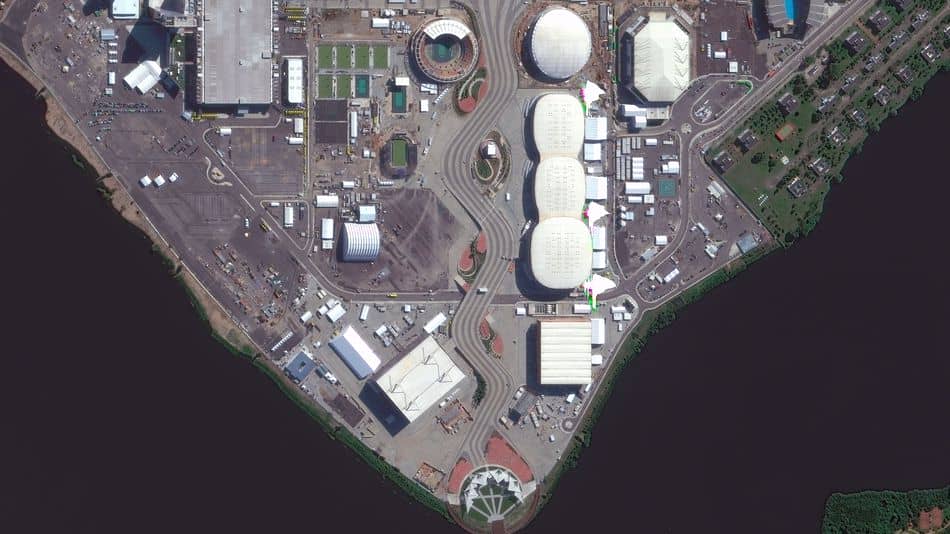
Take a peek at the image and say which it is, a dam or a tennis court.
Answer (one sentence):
I can see a tennis court in this picture.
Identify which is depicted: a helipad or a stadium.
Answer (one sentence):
I can see a stadium in this picture.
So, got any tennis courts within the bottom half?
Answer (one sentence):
No, I see no tennis court within the bottom half.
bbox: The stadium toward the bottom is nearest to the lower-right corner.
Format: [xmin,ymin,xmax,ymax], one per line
[535,319,592,386]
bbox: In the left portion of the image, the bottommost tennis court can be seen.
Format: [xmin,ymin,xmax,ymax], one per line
[315,122,347,143]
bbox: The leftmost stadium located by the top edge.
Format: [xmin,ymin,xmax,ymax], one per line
[407,14,480,87]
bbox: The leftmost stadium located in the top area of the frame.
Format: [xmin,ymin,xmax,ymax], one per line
[379,134,417,177]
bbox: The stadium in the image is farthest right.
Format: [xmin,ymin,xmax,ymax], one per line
[764,0,828,40]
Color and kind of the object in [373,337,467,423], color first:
white stadium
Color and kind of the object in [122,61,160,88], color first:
white tent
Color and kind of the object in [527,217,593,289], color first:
white stadium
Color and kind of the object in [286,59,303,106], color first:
white tent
